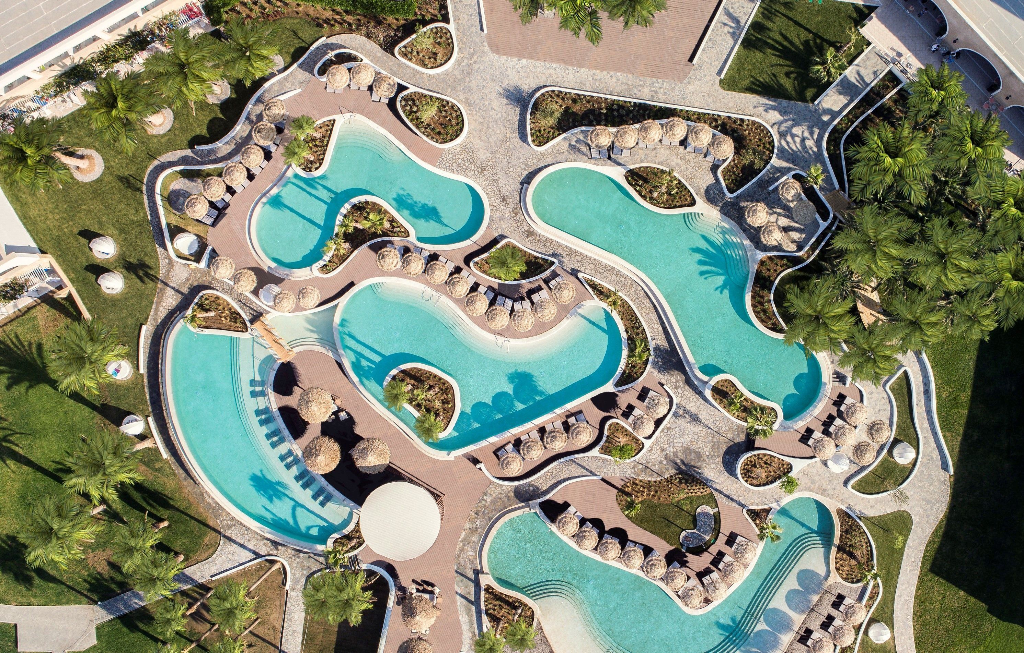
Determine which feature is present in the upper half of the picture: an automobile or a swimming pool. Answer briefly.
swimming pool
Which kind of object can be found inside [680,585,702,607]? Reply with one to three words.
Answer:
umbrella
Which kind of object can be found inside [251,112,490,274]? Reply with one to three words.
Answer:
swimming pool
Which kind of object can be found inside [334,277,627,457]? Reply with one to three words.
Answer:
swimming pool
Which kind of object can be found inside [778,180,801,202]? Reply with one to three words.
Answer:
umbrella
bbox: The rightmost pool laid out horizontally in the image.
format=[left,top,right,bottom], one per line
[482,492,835,653]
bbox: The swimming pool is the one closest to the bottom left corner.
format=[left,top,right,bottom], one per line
[164,299,358,550]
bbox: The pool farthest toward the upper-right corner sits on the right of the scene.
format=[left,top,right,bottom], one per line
[527,161,828,425]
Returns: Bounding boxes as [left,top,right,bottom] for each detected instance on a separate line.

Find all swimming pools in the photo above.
[334,277,627,457]
[527,161,828,425]
[482,492,835,653]
[164,299,358,550]
[251,112,490,274]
